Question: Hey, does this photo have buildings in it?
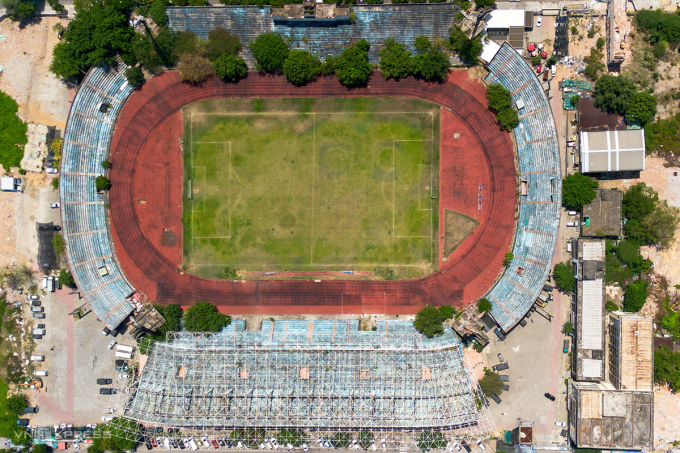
Yes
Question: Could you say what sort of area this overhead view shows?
sports ground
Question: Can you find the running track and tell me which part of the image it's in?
center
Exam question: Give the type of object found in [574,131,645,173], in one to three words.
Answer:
building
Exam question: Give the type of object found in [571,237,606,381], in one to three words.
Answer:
building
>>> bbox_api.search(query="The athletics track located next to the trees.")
[109,70,518,315]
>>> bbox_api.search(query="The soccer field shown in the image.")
[183,99,440,280]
